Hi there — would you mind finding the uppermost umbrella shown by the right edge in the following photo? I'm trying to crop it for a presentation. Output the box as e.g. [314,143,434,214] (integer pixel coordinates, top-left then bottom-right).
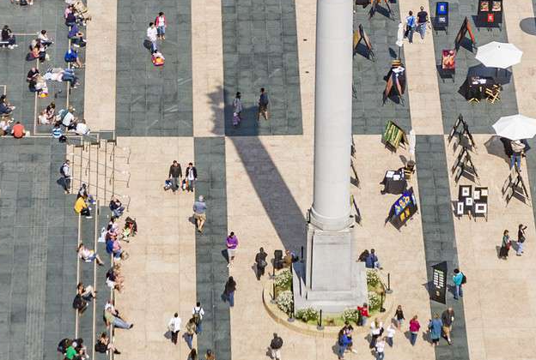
[476,43,521,81]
